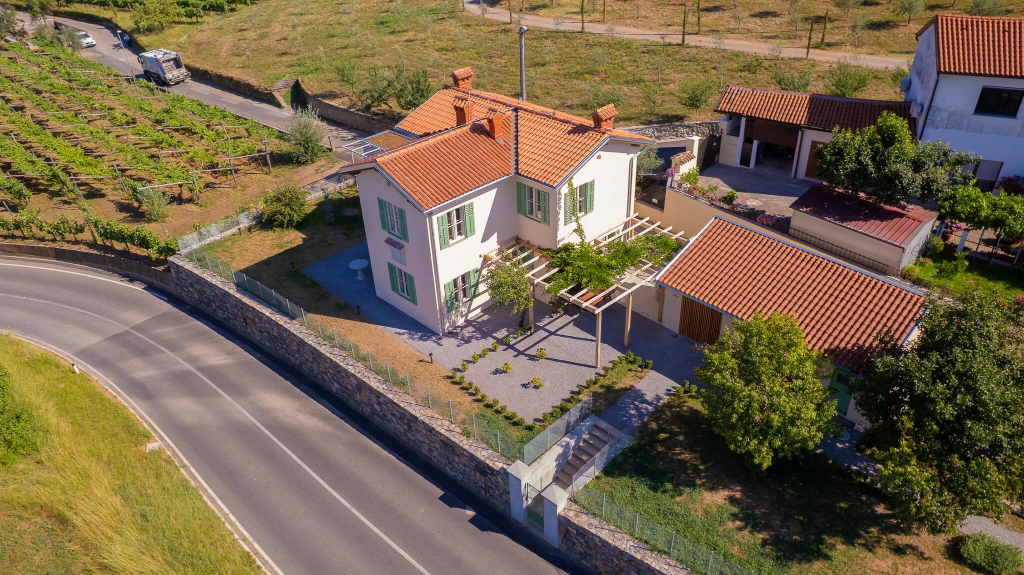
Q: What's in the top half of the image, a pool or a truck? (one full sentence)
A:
You can see a truck in the top half of the image.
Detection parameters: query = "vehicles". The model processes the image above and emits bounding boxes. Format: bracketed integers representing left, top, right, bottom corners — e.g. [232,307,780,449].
[76,30,97,49]
[135,46,186,83]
